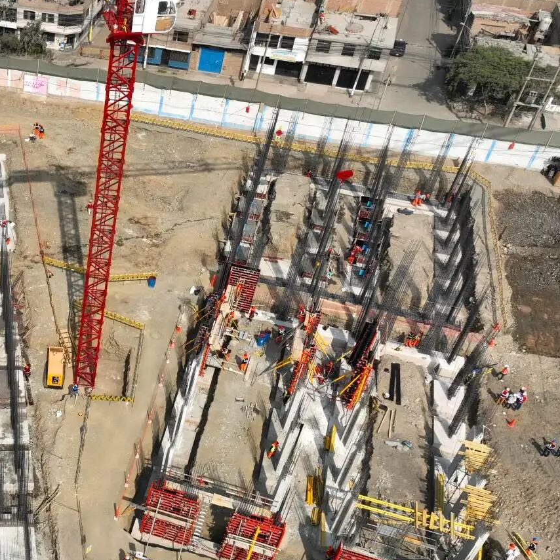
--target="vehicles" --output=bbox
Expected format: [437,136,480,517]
[527,158,560,190]
[389,40,410,56]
